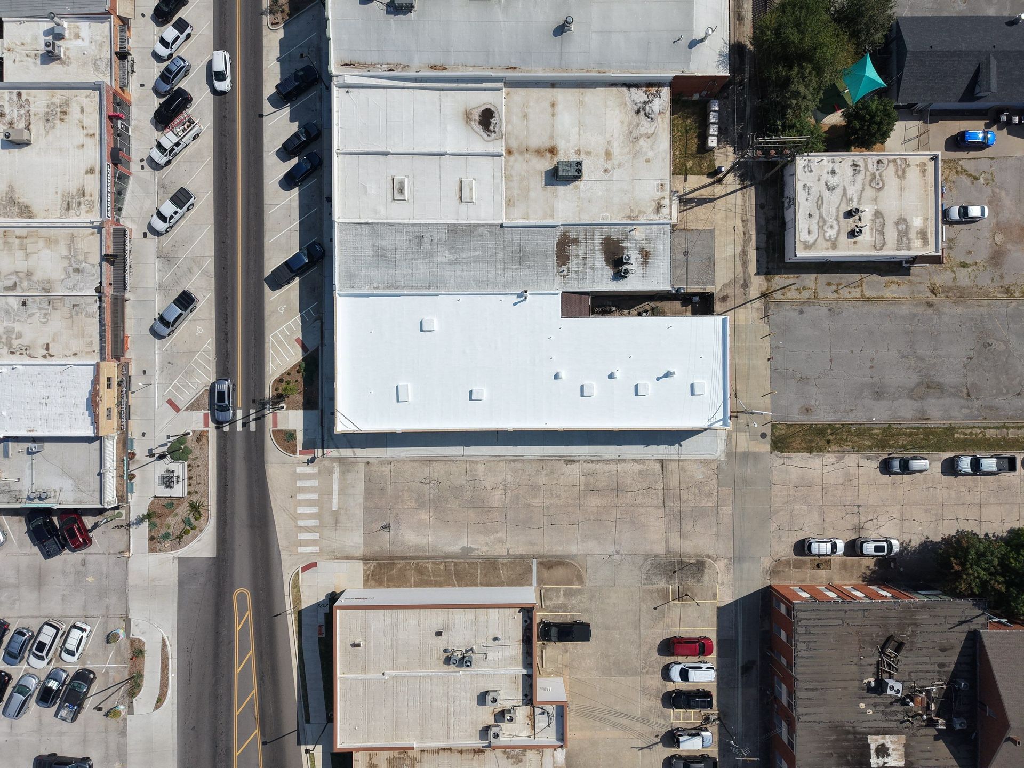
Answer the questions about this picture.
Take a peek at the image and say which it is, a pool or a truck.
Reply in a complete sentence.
The image shows a truck.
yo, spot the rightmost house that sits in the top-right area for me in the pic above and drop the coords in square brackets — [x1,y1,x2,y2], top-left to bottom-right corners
[889,12,1024,113]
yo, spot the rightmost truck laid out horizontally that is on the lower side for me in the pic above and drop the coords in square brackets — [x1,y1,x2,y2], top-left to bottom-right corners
[955,454,1019,476]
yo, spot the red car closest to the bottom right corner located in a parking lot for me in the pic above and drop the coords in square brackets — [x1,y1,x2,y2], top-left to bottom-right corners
[669,636,714,660]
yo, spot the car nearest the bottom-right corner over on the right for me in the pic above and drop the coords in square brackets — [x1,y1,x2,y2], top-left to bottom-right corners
[854,538,900,560]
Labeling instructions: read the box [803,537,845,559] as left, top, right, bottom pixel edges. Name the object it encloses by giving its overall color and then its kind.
white car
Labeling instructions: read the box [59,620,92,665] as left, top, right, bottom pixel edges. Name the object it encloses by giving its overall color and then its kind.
white car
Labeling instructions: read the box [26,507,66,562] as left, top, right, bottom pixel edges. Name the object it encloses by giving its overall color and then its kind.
black truck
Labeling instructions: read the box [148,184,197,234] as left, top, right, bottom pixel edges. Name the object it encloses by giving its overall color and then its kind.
white truck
